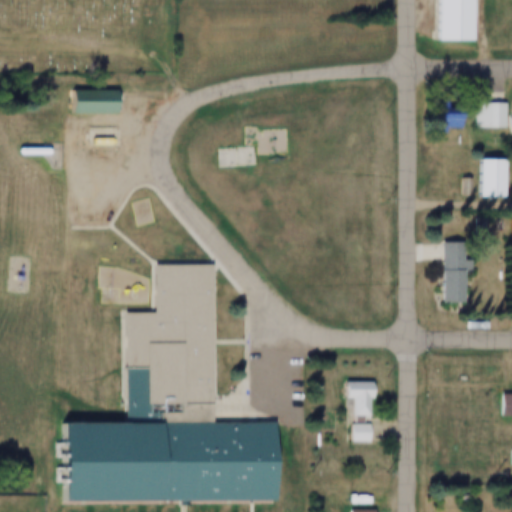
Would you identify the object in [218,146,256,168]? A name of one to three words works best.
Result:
basketball court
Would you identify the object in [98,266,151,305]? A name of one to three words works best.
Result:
playground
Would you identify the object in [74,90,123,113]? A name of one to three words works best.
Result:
shed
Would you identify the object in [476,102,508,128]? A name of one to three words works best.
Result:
house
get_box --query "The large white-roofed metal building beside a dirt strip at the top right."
[436,0,478,42]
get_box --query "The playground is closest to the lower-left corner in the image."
[8,256,30,294]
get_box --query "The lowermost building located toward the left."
[56,422,282,501]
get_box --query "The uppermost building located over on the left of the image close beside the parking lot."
[122,264,218,423]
